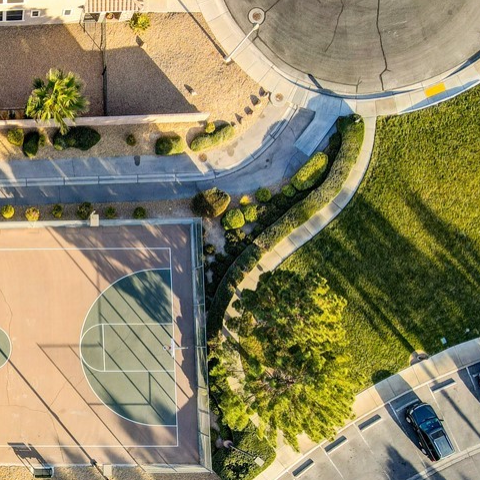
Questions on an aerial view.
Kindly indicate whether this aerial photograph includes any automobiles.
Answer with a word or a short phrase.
Yes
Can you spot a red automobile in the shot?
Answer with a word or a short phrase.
No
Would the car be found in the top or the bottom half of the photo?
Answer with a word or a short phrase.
bottom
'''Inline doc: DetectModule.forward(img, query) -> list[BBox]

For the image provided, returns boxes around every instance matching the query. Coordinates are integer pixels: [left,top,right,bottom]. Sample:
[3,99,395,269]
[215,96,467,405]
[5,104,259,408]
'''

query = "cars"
[408,401,461,464]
